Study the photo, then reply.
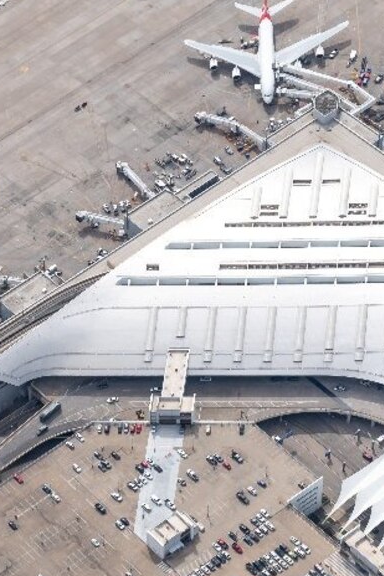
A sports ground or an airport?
airport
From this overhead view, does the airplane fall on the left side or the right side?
right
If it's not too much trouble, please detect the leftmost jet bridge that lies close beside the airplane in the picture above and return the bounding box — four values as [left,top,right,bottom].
[196,111,267,151]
